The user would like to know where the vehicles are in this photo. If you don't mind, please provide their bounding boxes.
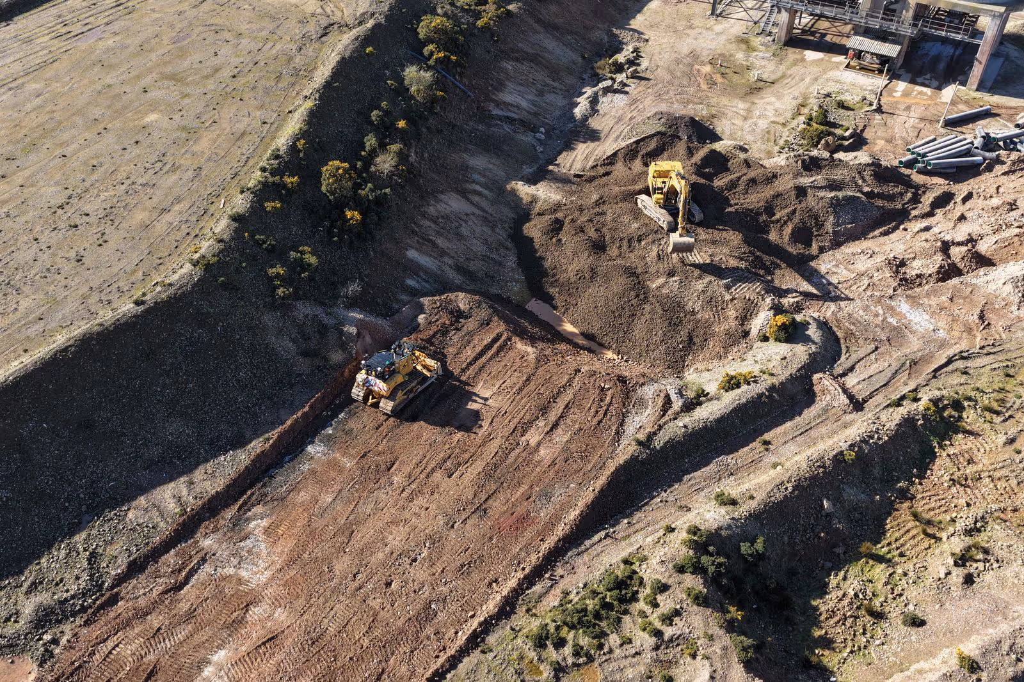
[357,337,450,414]
[634,158,708,255]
